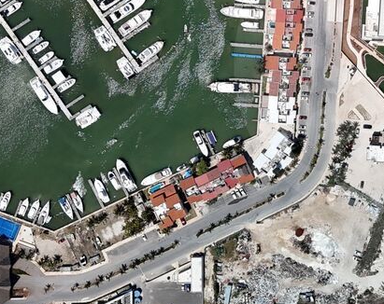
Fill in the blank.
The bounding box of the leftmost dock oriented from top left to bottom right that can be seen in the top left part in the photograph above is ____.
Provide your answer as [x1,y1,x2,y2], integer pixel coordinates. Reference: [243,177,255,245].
[0,13,74,121]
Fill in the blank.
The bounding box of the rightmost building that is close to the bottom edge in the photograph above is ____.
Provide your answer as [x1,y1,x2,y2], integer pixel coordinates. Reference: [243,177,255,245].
[177,254,206,292]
